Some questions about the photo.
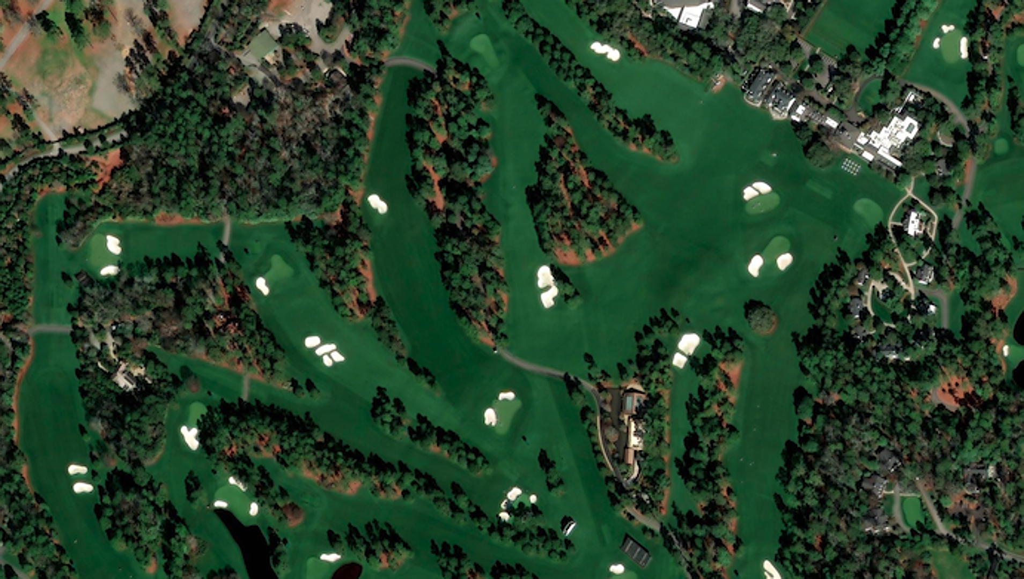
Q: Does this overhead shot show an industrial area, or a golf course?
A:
golf course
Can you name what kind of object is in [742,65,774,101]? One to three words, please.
building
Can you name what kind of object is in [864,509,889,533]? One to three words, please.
building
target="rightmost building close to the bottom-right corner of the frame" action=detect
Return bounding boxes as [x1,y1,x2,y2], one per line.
[964,466,996,492]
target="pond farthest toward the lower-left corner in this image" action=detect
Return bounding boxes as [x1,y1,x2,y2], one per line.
[214,508,281,579]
